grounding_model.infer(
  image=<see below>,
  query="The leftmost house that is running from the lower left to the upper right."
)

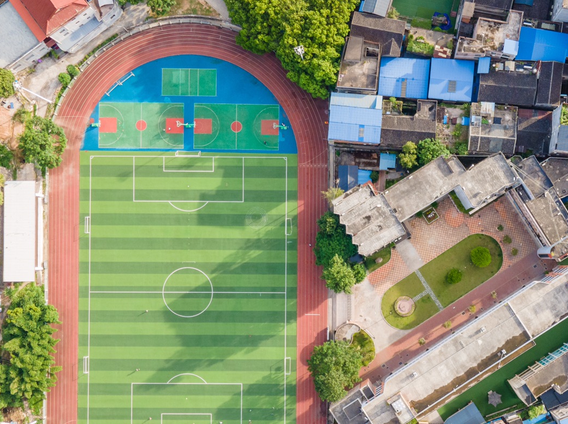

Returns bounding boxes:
[54,9,124,55]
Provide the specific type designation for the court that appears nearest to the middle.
basketball court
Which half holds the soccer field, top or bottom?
bottom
